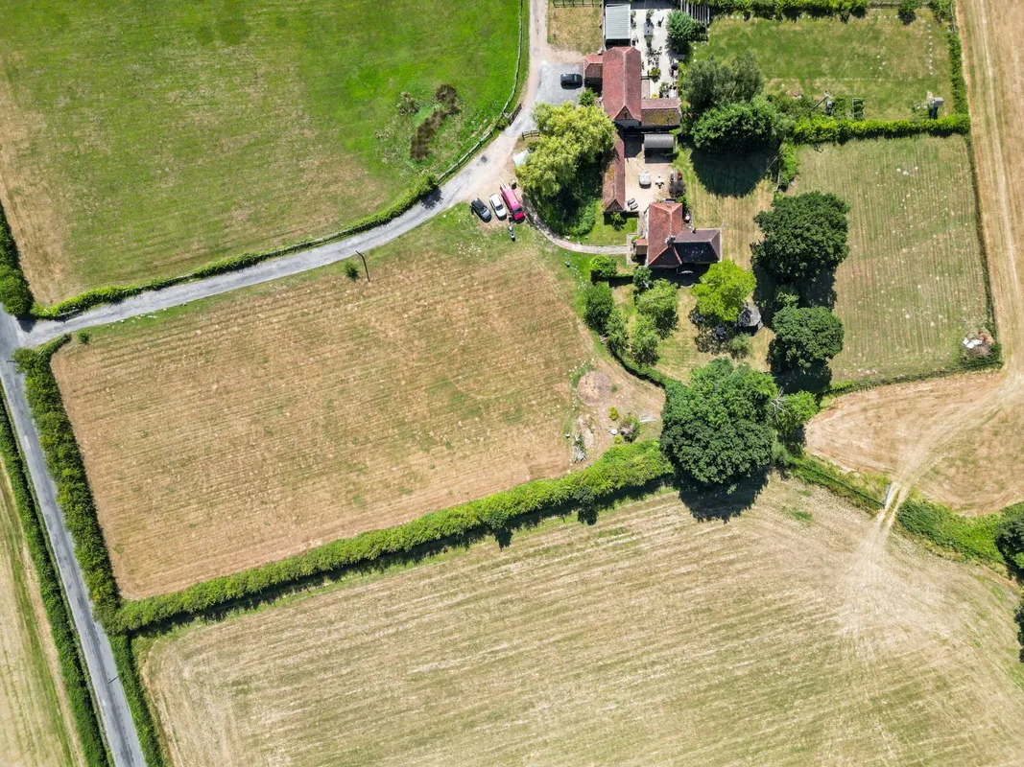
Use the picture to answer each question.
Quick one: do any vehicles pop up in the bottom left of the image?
No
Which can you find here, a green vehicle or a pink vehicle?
pink vehicle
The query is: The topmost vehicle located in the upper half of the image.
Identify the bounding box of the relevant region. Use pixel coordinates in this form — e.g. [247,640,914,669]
[560,73,583,87]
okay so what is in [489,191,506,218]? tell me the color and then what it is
white car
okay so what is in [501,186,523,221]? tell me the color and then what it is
pink vehicle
